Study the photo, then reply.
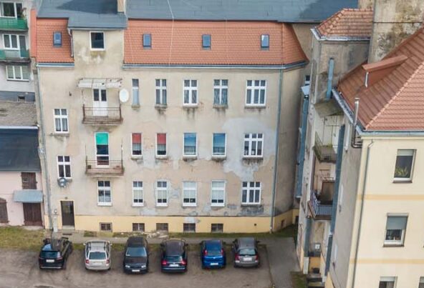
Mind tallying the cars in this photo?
6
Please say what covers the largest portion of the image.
buildings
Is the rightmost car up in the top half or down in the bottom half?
bottom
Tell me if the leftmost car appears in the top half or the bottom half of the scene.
bottom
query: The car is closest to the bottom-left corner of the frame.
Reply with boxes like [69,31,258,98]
[40,232,82,267]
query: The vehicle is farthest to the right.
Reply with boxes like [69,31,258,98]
[230,233,262,265]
